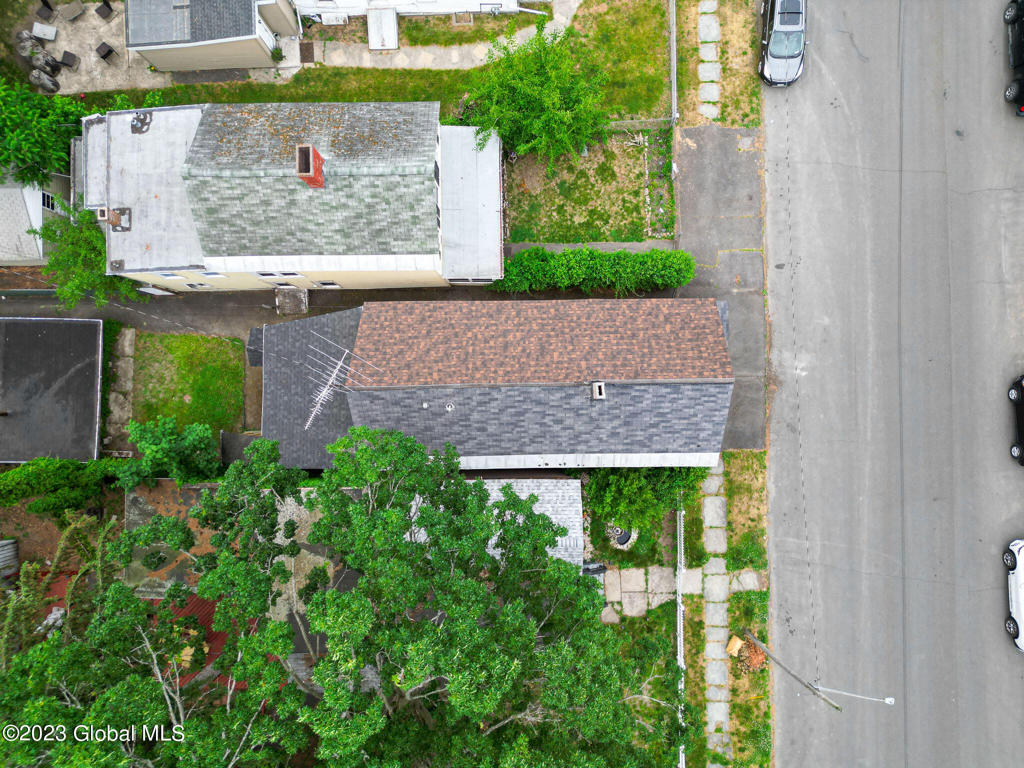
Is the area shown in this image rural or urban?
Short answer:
urban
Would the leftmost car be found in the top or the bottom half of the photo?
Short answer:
top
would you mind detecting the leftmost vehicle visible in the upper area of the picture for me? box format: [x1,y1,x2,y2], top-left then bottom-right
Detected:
[754,0,815,89]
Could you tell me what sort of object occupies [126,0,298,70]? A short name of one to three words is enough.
building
